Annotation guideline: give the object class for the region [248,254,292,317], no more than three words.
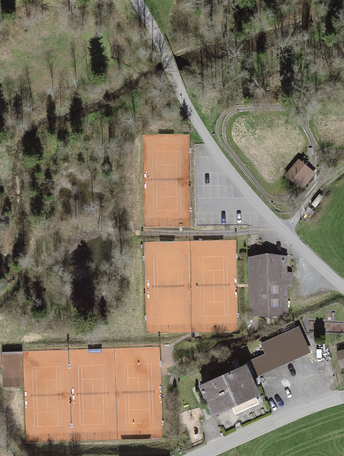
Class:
building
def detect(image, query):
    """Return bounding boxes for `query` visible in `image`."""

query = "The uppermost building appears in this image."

[286,159,316,188]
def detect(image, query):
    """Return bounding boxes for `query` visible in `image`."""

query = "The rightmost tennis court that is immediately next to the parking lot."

[190,240,238,332]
